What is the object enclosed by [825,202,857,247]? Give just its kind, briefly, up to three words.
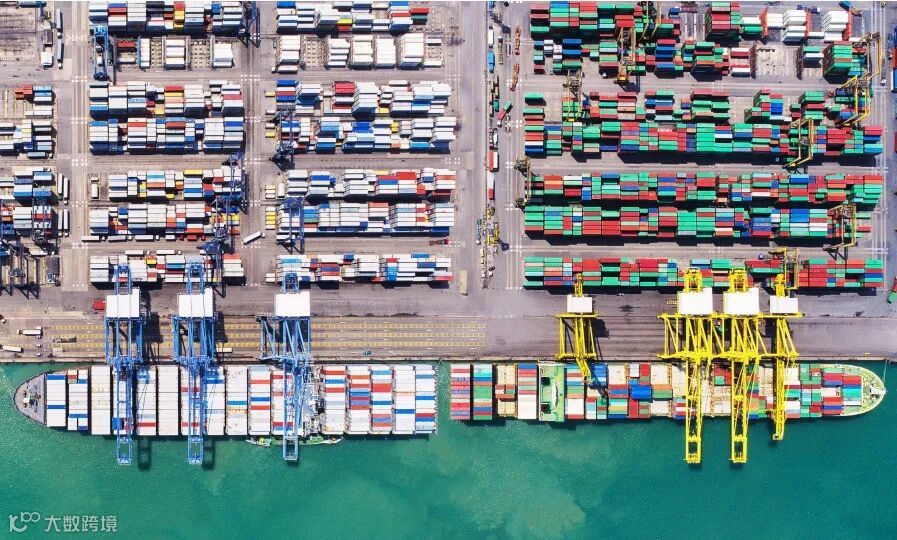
crane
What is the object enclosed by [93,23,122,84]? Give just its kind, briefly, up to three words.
crane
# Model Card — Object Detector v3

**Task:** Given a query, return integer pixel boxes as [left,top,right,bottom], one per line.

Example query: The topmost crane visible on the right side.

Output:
[636,0,661,43]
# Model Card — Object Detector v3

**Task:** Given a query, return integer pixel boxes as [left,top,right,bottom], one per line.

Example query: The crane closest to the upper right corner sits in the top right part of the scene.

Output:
[853,30,883,83]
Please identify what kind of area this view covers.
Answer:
port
